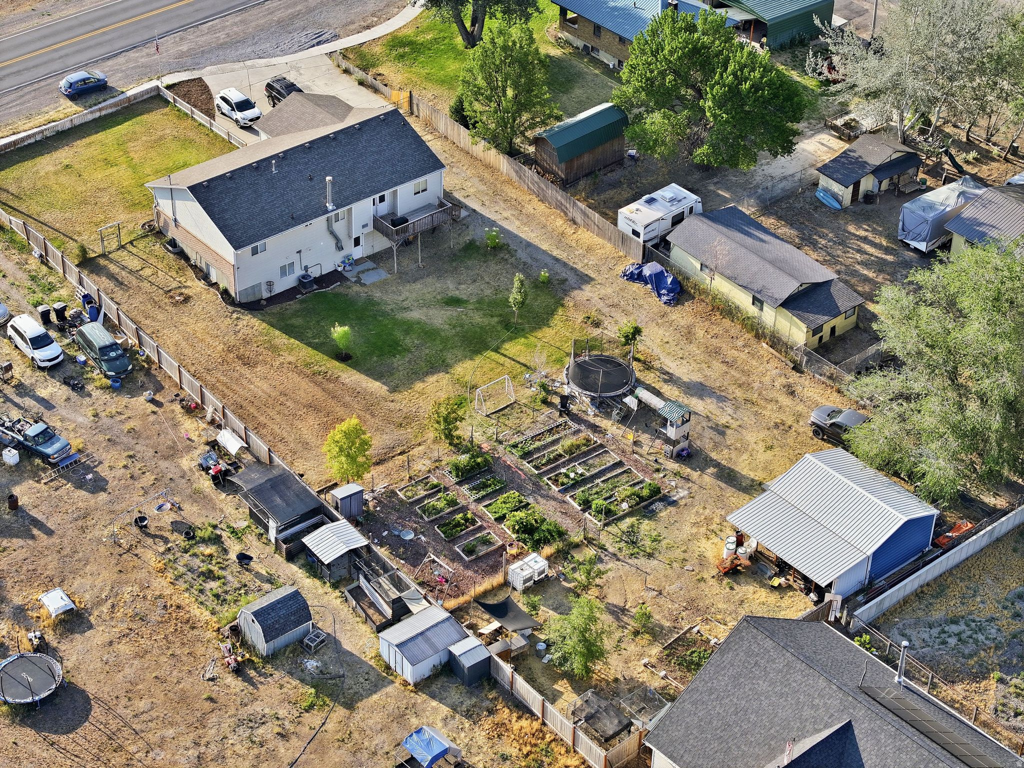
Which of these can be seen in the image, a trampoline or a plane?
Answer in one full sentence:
This aerial view contains a trampoline.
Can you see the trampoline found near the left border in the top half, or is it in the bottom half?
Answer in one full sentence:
The bottom half of the photo is where the trampoline found near the left border is.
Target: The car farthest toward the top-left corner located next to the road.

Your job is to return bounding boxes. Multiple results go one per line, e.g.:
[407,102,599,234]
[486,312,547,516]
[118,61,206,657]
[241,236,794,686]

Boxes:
[56,69,111,101]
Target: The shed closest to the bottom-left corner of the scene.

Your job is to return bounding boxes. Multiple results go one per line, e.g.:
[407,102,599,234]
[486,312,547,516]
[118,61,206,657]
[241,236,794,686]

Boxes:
[238,586,315,656]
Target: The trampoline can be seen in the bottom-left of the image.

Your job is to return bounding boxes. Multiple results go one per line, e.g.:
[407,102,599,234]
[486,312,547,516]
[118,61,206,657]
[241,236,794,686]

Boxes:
[0,637,67,715]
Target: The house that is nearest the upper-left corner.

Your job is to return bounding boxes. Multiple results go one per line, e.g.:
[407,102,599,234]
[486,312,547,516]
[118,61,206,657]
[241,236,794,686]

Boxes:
[151,91,466,304]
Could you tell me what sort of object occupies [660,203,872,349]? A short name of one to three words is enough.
shed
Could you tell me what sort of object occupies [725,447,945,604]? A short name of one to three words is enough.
building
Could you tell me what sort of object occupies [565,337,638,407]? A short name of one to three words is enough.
trampoline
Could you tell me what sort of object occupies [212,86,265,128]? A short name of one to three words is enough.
car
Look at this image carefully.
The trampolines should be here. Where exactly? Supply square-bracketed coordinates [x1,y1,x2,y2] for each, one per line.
[0,637,67,715]
[565,337,638,407]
